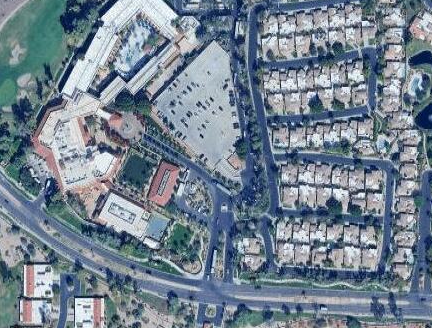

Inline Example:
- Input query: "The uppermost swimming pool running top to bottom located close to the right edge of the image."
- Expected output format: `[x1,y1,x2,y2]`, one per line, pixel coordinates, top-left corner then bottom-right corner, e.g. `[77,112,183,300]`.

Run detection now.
[410,68,423,95]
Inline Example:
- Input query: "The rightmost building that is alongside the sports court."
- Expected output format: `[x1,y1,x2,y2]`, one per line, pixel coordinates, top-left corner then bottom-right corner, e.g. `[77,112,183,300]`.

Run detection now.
[148,160,179,207]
